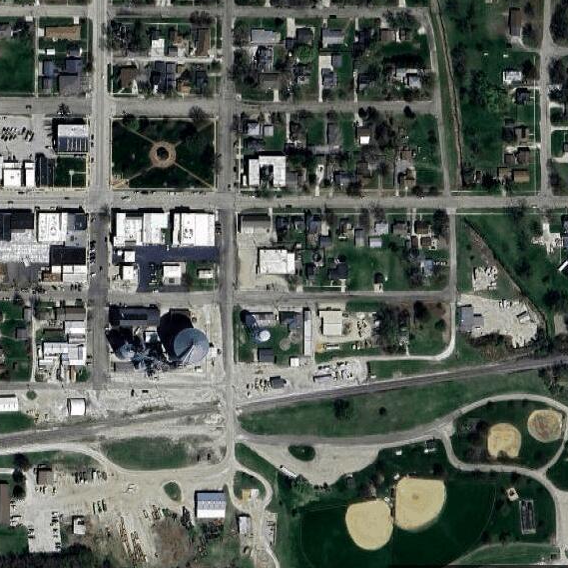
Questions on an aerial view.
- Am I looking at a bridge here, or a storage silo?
storage silo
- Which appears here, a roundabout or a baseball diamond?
baseball diamond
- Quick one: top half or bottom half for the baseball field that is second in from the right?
bottom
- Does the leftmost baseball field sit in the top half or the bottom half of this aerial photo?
bottom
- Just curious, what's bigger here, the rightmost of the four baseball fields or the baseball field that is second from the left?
the baseball field that is second from the left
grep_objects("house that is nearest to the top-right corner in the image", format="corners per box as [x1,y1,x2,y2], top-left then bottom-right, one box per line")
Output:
[509,7,523,35]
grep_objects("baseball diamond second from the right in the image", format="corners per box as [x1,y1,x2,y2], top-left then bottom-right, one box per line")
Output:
[489,423,521,460]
